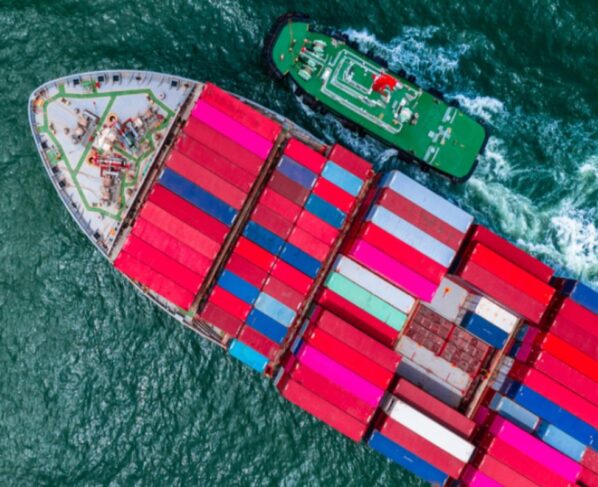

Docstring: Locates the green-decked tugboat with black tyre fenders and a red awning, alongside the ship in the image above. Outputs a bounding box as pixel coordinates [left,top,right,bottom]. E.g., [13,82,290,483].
[265,13,489,183]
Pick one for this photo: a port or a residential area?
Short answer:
port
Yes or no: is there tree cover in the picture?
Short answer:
No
